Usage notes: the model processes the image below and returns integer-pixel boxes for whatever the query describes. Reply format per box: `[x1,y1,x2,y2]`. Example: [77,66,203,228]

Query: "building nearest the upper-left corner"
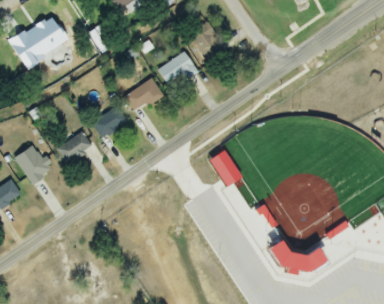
[8,17,64,68]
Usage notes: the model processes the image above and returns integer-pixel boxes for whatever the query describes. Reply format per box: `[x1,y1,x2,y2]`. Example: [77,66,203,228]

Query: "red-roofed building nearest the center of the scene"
[210,149,244,188]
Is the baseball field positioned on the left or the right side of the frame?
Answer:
right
